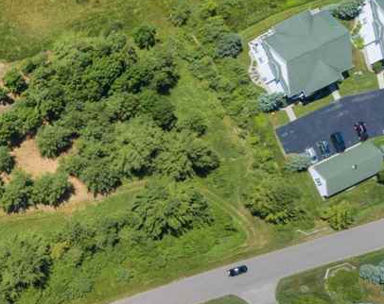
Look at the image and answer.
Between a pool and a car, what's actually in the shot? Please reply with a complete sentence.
This aerial view contains a car.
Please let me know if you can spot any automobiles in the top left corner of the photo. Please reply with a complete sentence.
No, I see no automobile in the top left corner of the photo.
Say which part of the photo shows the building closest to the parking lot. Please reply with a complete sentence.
The building closest to the parking lot is located in the right region of the scene.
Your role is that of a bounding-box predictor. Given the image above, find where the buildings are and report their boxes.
[353,0,384,62]
[251,6,354,98]
[307,141,383,196]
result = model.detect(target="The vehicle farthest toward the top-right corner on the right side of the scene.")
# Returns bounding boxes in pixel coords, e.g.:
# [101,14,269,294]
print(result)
[353,119,370,142]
